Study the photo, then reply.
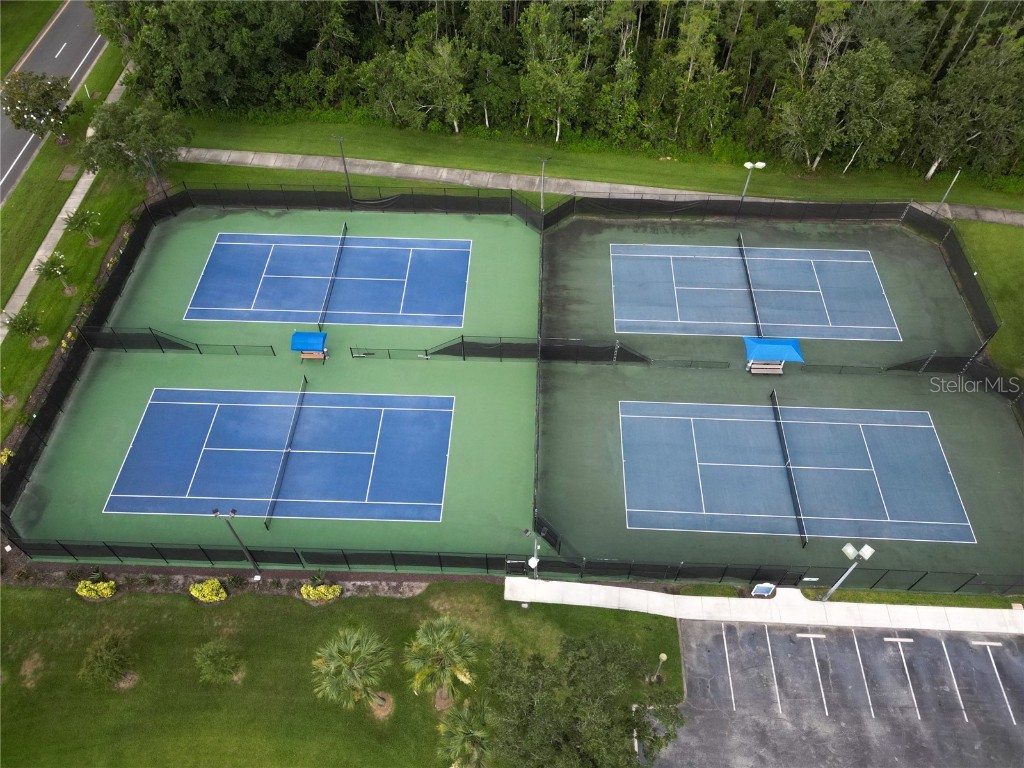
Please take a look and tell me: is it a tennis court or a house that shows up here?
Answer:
tennis court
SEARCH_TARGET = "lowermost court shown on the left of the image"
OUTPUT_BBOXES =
[8,349,578,583]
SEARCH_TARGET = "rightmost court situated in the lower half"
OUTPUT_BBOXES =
[536,362,1024,599]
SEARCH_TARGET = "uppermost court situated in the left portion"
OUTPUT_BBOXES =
[94,206,541,362]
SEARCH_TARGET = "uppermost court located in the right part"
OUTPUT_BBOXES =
[540,215,987,374]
